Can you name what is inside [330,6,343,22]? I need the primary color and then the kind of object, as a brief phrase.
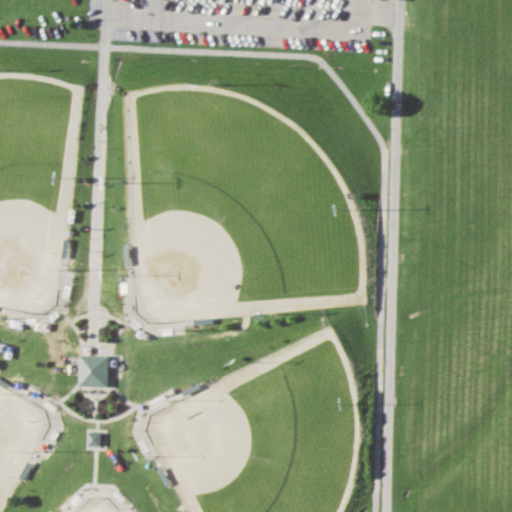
white vehicle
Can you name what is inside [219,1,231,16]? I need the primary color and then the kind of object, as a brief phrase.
white vehicle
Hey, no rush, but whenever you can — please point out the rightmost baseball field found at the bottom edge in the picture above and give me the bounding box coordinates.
[147,326,360,512]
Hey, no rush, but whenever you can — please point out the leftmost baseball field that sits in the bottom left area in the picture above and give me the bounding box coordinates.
[0,389,48,512]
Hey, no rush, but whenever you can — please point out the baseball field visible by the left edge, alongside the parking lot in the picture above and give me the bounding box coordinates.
[0,72,83,313]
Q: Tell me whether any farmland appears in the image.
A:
Yes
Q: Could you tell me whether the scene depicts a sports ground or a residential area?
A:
sports ground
